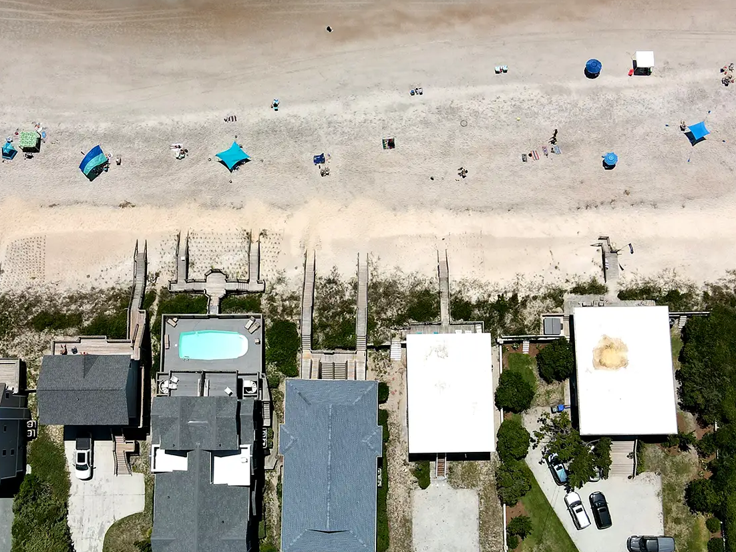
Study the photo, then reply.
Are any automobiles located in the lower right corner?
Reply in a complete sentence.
Yes, the scene does show an automobile in the lower right corner.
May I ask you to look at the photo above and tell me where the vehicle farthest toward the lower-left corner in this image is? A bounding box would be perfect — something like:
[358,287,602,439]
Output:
[73,435,94,480]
